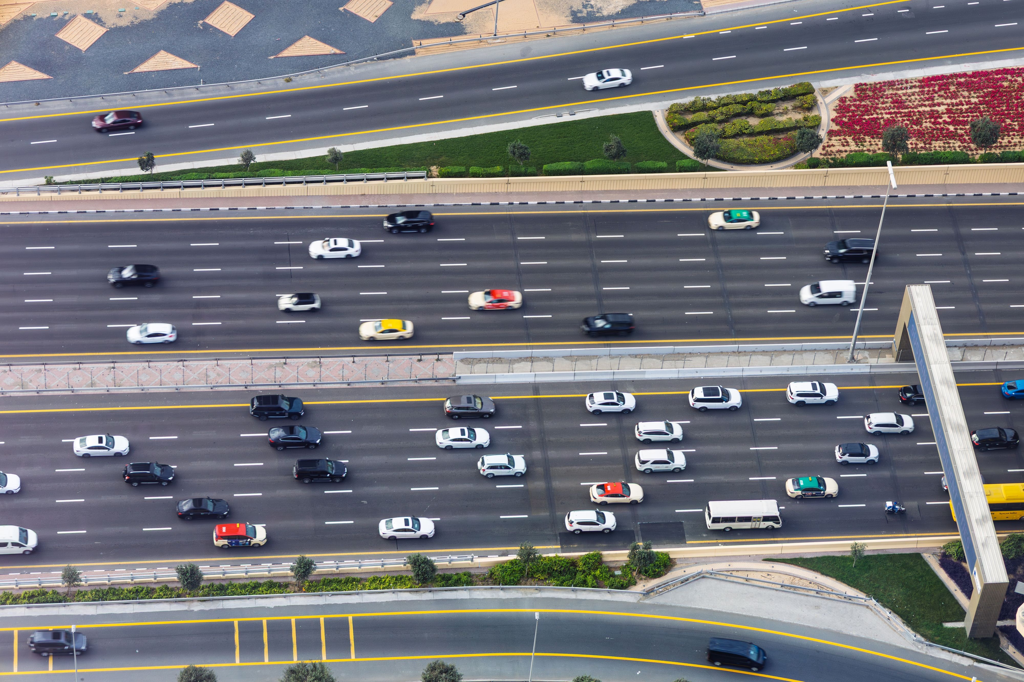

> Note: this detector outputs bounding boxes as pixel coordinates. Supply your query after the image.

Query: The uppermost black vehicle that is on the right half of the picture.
[825,239,875,264]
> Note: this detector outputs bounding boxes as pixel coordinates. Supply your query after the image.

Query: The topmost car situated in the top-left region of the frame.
[92,111,143,133]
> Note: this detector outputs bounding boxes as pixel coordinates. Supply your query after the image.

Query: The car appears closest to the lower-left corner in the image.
[26,629,87,658]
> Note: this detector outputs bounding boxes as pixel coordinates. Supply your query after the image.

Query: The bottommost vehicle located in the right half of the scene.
[705,637,767,674]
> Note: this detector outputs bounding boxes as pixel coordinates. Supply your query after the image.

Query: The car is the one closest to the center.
[469,288,521,311]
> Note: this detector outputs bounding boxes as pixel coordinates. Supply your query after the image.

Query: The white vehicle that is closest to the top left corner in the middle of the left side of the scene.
[127,322,176,345]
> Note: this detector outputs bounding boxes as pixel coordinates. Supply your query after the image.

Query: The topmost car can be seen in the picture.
[583,69,631,91]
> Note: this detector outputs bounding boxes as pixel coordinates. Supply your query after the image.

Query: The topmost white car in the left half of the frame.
[309,237,361,259]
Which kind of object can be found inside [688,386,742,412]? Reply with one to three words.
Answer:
car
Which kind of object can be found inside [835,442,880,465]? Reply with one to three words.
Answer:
car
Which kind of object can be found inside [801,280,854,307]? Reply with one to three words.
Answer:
vehicle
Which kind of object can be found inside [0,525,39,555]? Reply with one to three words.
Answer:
van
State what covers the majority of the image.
paved ground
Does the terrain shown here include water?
No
